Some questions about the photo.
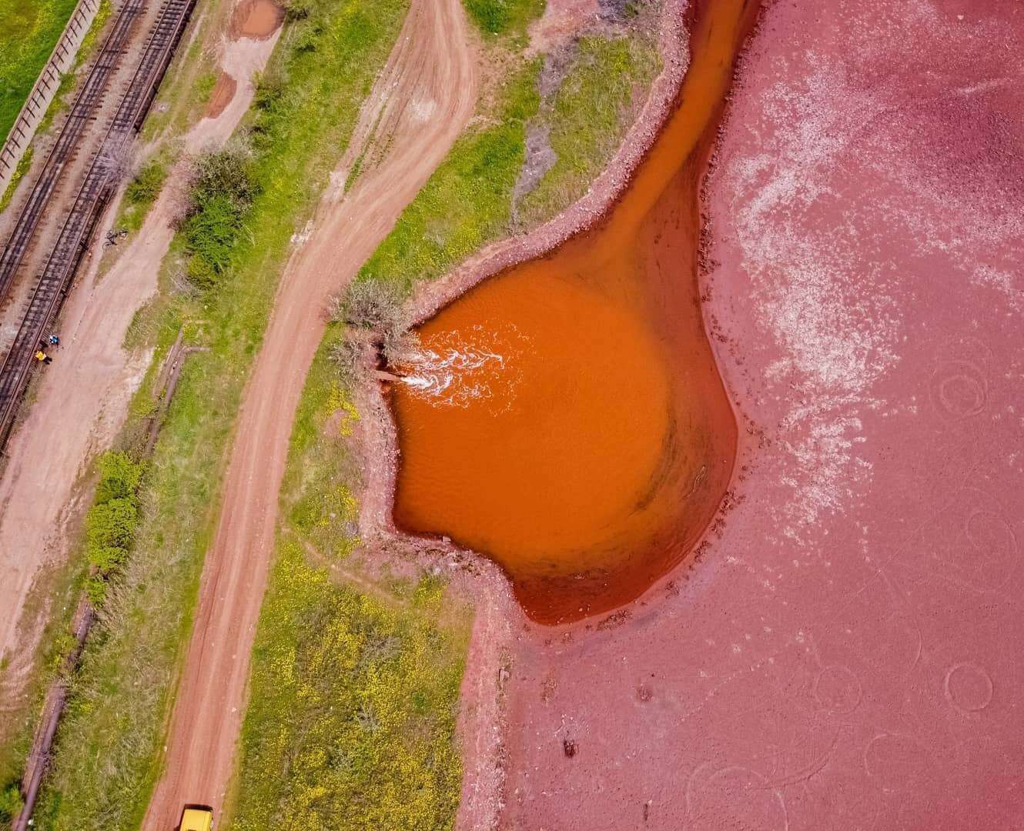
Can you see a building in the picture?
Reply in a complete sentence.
No, the scene contains no building.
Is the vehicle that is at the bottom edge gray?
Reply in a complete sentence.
No, the vehicle that is at the bottom edge is yellow.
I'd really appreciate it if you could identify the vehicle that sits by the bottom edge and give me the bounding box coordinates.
[180,808,217,831]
